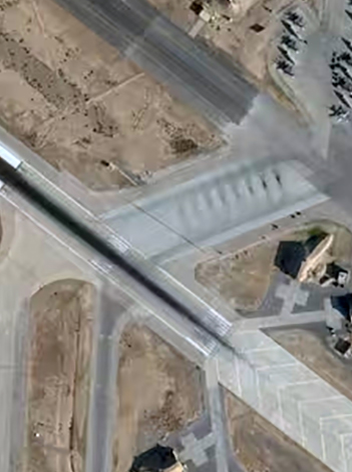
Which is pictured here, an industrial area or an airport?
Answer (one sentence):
This looks like an airport.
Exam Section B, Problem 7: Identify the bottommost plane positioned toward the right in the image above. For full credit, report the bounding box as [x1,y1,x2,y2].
[335,110,350,125]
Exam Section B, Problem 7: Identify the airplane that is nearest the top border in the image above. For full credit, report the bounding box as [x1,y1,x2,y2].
[287,12,302,26]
